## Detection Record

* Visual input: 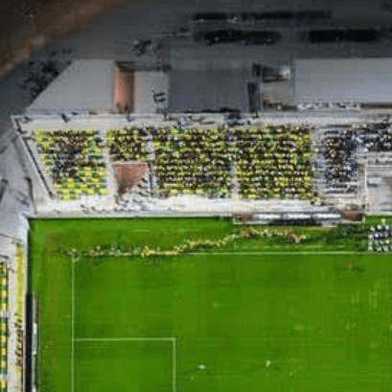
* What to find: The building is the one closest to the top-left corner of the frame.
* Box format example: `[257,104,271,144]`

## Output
[29,59,118,115]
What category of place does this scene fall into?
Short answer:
sports ground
